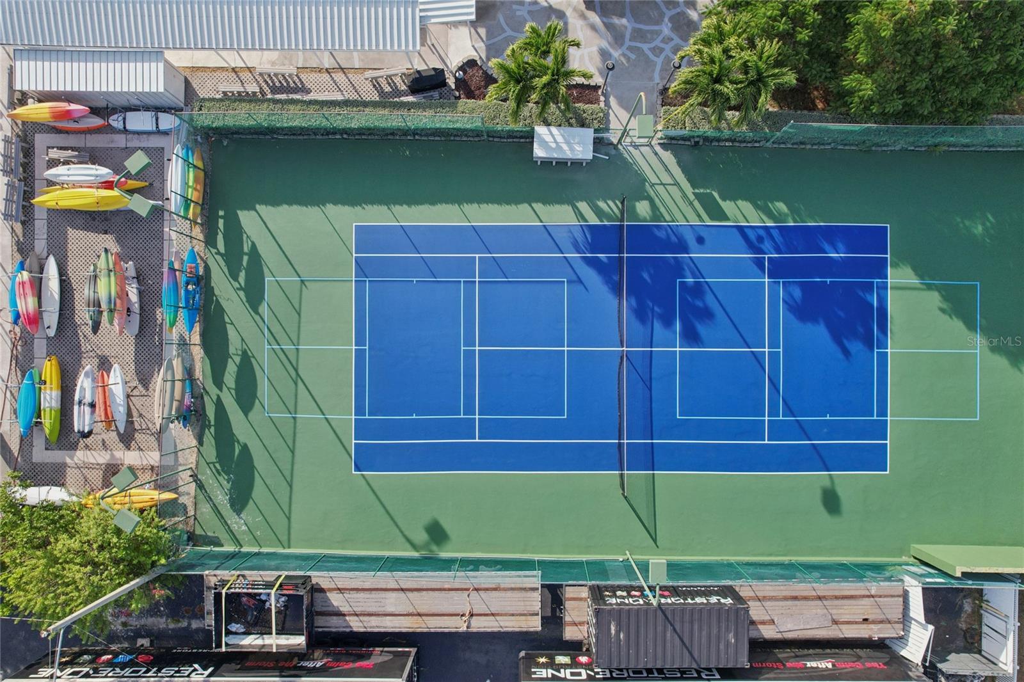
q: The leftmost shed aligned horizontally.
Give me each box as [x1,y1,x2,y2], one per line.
[14,52,187,106]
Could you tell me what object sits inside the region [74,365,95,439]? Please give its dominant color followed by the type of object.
white boat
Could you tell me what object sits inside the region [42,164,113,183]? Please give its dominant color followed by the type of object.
white boat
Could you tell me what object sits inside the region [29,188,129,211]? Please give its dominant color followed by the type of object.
yellow boat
